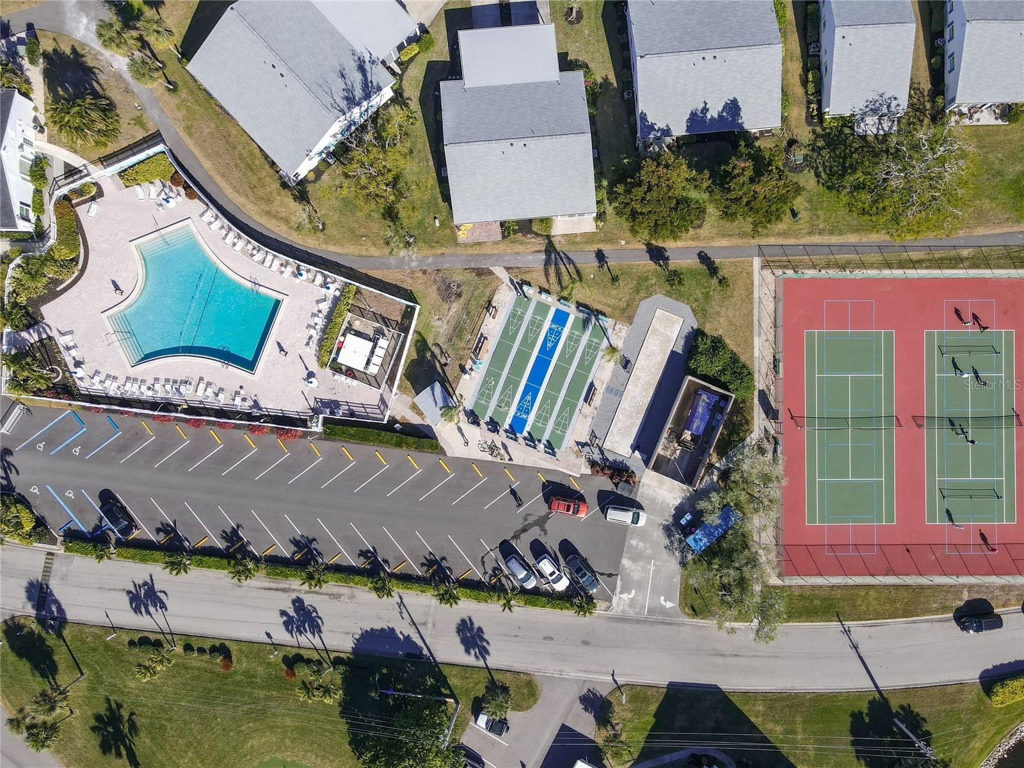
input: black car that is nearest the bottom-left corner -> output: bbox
[98,499,134,537]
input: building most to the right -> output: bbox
[944,0,1024,106]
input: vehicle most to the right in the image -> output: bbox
[962,612,1007,636]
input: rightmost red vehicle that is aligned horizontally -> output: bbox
[549,499,588,520]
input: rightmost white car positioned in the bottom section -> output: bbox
[604,505,647,528]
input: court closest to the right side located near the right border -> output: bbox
[910,277,1024,576]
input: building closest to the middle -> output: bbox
[414,381,450,424]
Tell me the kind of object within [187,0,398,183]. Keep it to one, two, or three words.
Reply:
house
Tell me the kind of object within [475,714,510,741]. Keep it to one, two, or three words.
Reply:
car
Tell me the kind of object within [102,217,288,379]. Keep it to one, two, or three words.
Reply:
swimming pool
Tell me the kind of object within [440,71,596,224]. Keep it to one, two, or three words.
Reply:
house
